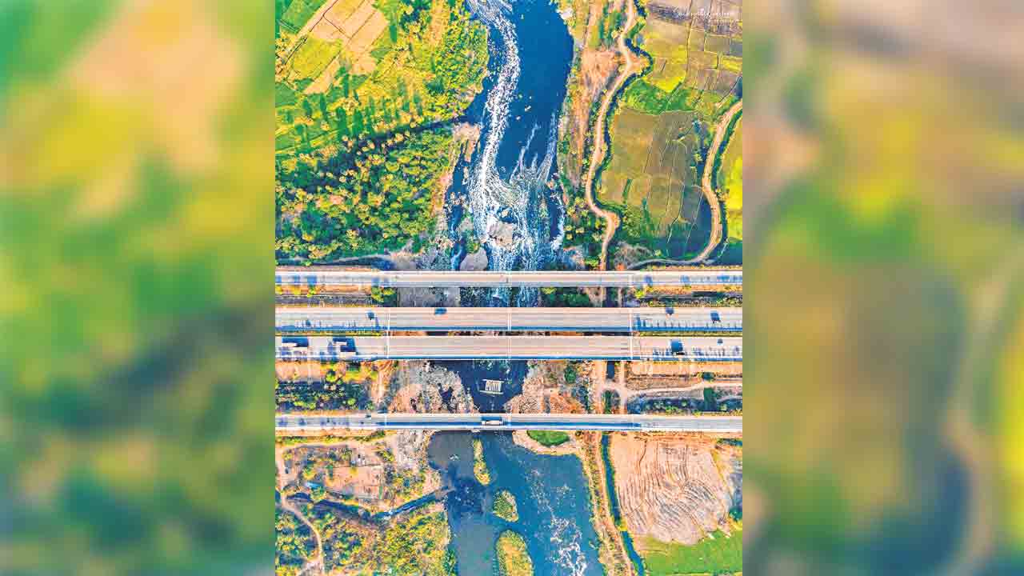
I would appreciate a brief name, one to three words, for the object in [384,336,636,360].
bridge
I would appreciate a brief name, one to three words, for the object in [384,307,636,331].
bridge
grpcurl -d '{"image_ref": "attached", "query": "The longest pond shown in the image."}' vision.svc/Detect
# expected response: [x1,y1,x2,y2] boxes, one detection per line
[671,188,711,253]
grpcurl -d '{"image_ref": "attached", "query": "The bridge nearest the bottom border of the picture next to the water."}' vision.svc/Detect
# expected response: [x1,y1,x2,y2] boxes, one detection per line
[384,413,636,433]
